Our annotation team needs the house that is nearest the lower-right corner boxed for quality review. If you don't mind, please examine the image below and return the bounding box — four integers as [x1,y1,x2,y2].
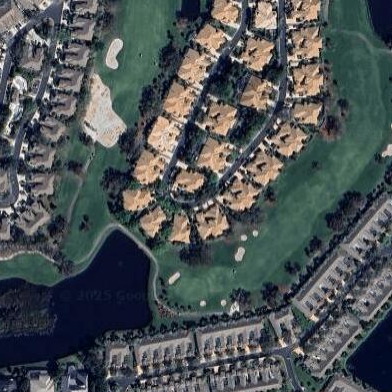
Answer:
[332,363,384,392]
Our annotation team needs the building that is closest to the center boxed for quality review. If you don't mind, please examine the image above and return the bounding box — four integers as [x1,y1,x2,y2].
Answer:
[175,165,202,197]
